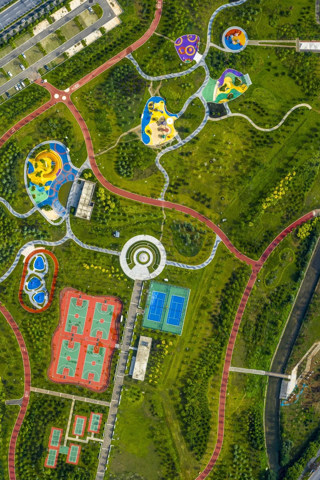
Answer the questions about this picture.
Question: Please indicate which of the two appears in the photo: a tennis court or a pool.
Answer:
tennis court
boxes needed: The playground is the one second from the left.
[141,95,178,145]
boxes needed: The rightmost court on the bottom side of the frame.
[163,285,191,335]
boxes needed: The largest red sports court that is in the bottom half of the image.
[48,287,123,392]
